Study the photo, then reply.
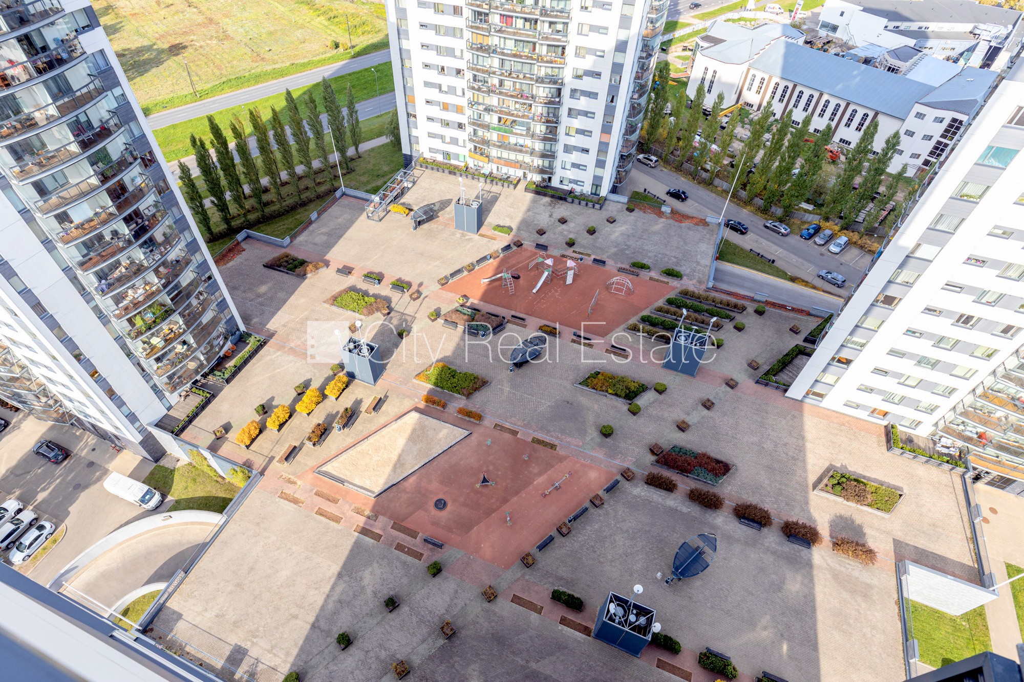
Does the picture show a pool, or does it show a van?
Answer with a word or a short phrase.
van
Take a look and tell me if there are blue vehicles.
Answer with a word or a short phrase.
Yes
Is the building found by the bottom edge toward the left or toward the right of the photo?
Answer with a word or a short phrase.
left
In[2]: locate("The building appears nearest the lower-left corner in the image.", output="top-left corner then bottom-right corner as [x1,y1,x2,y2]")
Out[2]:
[0,558,215,682]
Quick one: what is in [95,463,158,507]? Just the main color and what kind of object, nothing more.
white van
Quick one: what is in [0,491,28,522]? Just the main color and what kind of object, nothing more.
white car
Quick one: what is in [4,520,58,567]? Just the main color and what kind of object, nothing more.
white car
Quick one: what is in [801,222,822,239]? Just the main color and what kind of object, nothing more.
blue car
